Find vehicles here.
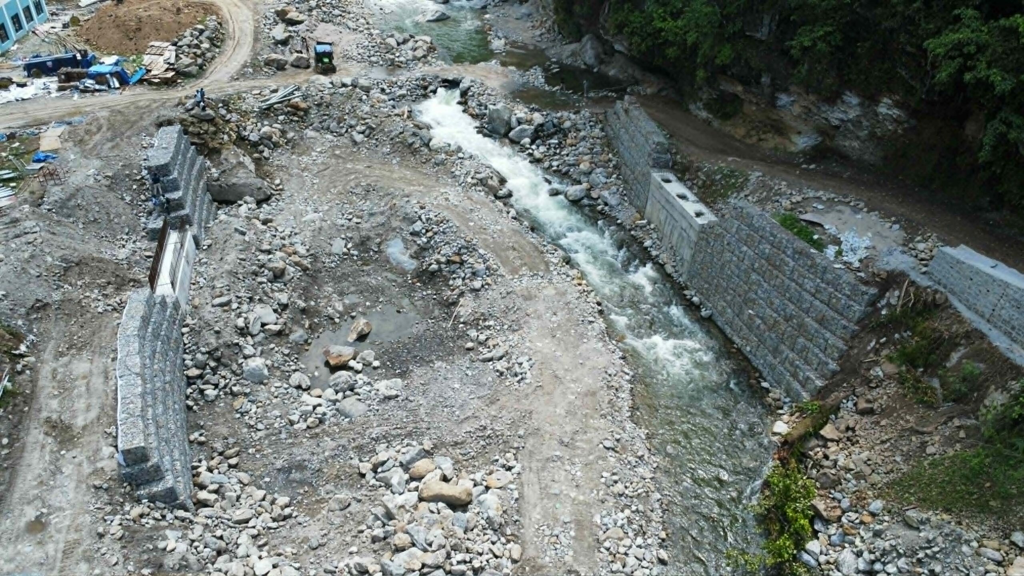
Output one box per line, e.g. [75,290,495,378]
[316,32,343,72]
